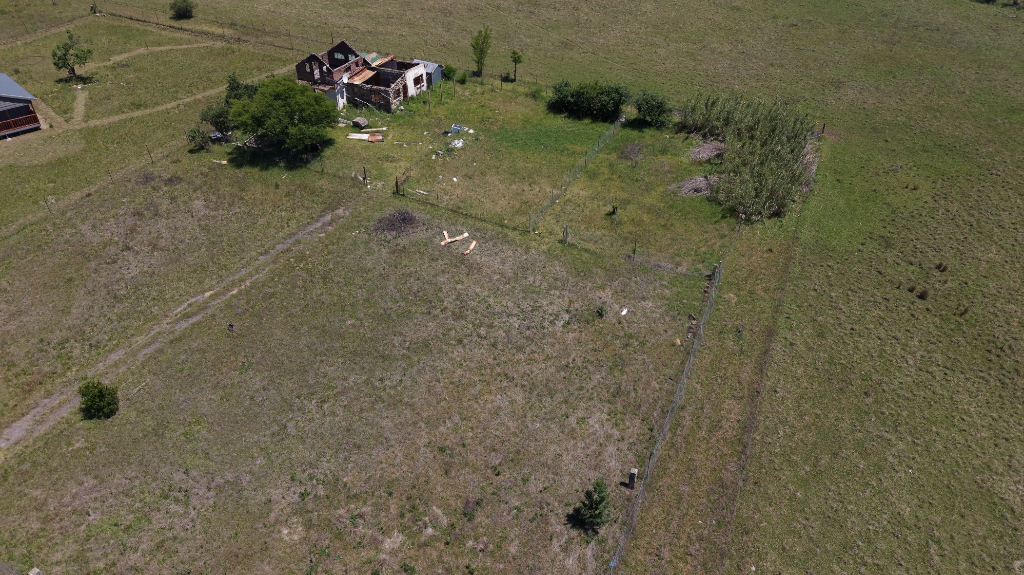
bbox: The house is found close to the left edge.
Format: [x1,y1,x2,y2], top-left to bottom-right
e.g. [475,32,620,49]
[0,77,41,135]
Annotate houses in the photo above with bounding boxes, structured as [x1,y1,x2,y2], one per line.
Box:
[290,39,426,113]
[0,77,41,135]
